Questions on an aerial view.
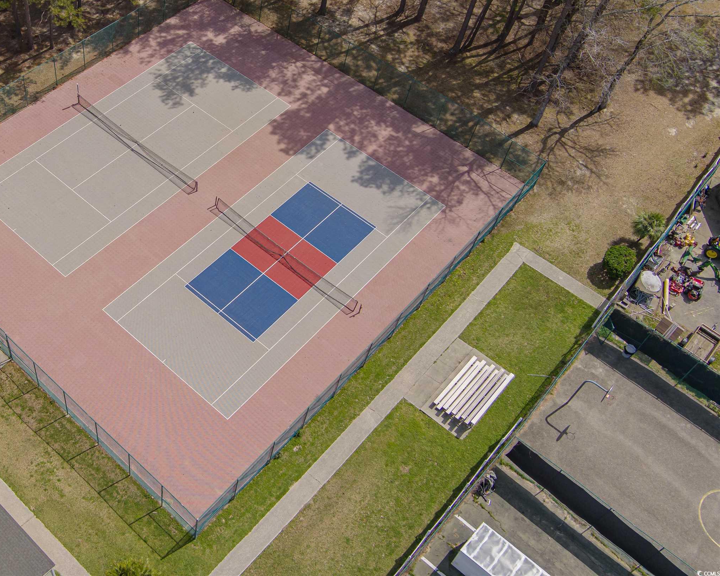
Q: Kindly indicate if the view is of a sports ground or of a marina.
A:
sports ground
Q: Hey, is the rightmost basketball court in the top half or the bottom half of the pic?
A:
bottom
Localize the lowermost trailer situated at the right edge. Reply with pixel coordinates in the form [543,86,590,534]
[682,324,720,366]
